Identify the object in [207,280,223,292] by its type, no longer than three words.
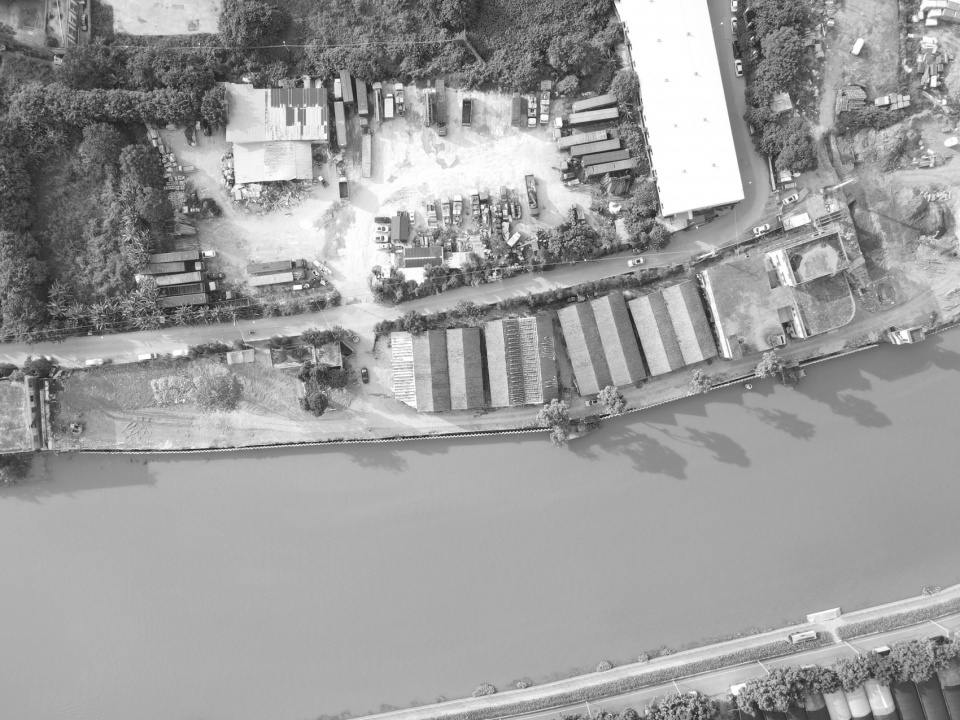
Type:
vehicle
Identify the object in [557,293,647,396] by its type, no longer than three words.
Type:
shed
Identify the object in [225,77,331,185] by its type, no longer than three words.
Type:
barn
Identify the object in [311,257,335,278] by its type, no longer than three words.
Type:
truck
